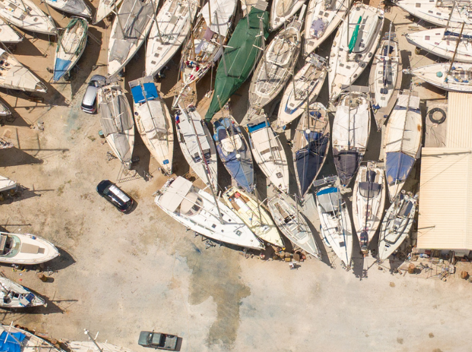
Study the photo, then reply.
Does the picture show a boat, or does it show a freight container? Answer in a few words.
boat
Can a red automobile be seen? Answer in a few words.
No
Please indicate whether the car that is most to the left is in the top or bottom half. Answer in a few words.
top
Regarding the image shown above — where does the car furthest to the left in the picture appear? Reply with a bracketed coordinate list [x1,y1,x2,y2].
[78,77,106,115]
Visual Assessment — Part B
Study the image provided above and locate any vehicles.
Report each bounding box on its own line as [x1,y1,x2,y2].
[78,77,106,115]
[94,178,136,218]
[140,328,183,352]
